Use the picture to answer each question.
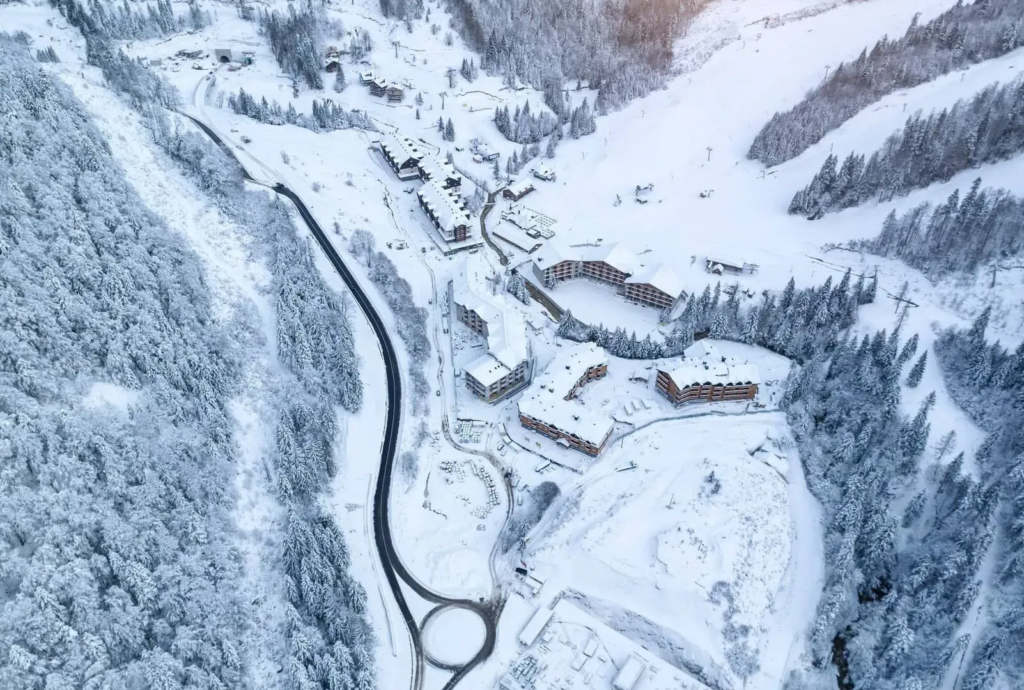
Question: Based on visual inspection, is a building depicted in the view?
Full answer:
Yes, the frame does contain a building.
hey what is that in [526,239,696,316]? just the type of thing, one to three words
building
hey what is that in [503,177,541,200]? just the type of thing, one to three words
barn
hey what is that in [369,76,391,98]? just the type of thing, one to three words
house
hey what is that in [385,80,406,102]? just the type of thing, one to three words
house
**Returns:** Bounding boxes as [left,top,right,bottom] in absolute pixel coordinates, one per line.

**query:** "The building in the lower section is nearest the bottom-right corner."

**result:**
[612,656,646,690]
